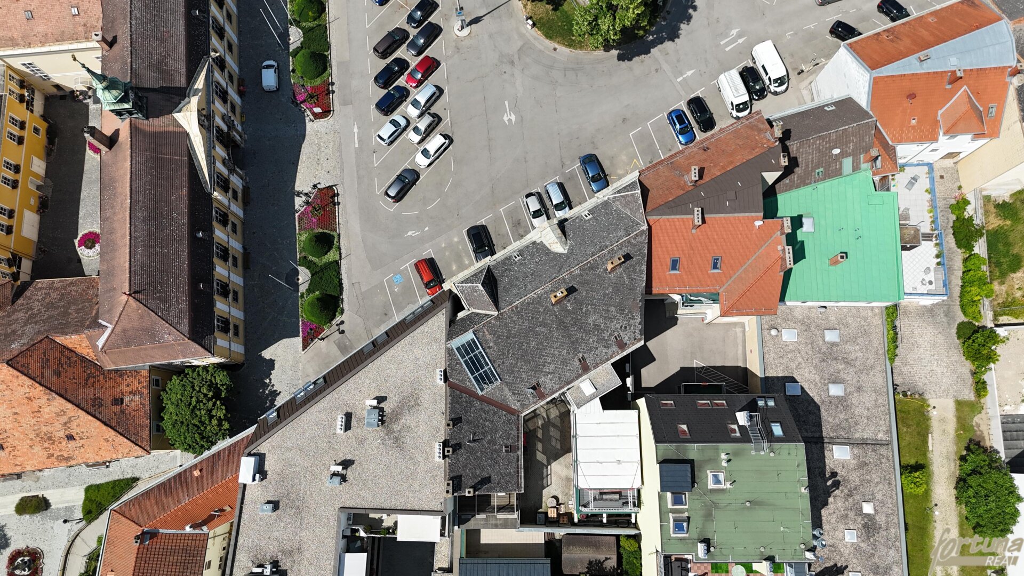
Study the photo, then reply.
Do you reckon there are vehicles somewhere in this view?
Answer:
Yes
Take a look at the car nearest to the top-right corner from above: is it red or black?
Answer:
black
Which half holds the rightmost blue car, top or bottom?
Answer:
top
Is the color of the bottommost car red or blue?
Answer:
red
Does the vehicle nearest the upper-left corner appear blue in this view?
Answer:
Yes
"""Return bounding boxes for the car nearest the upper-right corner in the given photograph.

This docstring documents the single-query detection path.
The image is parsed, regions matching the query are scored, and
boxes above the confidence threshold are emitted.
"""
[872,0,911,22]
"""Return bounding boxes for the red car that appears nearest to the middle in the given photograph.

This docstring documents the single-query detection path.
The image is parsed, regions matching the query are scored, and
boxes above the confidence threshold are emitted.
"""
[413,255,447,300]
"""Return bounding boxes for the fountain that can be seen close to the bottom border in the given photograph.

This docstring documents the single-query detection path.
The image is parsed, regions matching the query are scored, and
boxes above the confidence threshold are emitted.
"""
[3,544,42,576]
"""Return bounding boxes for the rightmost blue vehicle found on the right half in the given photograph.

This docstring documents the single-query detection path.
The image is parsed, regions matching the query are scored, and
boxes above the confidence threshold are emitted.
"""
[665,106,696,148]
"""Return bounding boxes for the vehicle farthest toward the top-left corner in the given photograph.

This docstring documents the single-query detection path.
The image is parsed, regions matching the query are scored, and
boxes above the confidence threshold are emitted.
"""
[259,59,281,97]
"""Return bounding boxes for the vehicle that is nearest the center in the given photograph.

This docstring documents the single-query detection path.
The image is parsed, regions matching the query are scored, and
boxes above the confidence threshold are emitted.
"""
[465,221,497,263]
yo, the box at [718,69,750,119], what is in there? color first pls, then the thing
white van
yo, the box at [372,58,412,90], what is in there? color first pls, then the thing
black car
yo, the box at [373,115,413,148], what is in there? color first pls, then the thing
white car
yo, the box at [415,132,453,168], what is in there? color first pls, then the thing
white car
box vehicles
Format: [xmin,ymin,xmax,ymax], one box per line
[541,177,573,220]
[382,169,422,204]
[415,132,453,168]
[404,82,445,120]
[750,38,789,96]
[405,22,447,57]
[740,64,769,103]
[577,151,609,196]
[718,69,750,119]
[665,106,696,148]
[872,0,911,22]
[413,255,447,300]
[373,86,412,118]
[684,94,717,136]
[518,188,551,232]
[372,58,412,90]
[403,0,444,31]
[465,221,497,263]
[404,55,442,89]
[825,18,859,43]
[370,27,413,60]
[259,59,281,97]
[405,109,446,147]
[373,115,413,148]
